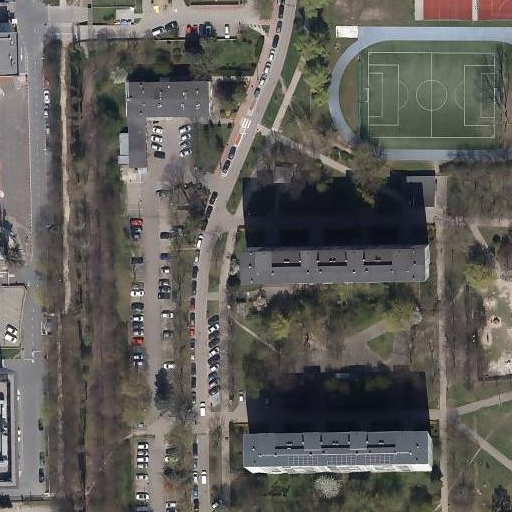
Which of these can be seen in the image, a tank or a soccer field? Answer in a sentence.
Of the two, only a soccer field appears.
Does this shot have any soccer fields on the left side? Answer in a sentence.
No, looking on the left side, there is no soccer field.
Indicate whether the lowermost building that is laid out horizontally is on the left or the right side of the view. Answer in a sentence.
You can find the lowermost building that is laid out horizontally on the right side of the picture.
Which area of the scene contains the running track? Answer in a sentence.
Look in the top right portion of the view to spot the running track.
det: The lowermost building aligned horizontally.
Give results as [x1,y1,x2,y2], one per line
[244,431,431,472]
